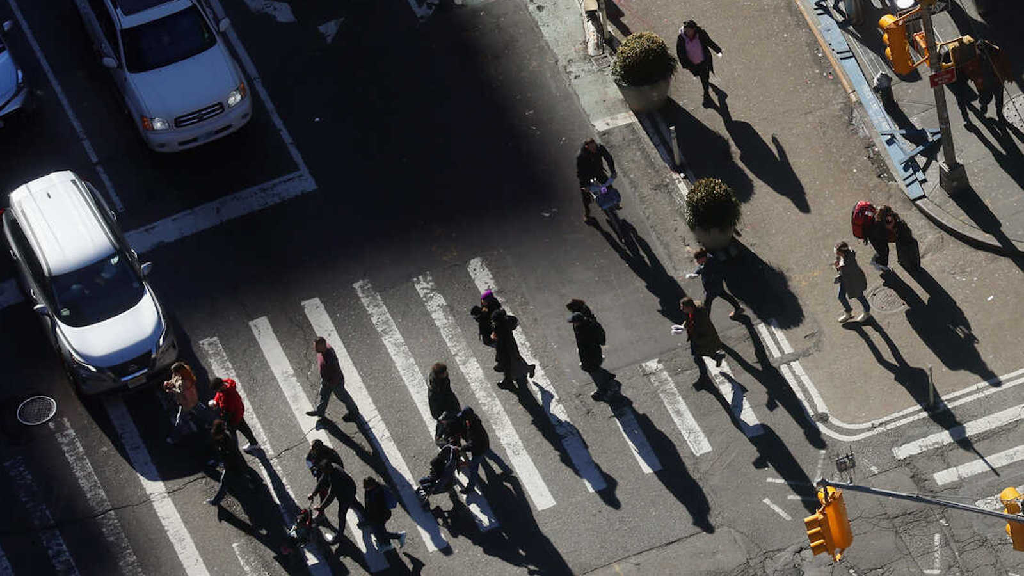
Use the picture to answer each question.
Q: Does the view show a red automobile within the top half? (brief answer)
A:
No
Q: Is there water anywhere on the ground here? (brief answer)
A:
No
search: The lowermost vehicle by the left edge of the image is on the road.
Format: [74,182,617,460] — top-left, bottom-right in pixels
[0,177,176,402]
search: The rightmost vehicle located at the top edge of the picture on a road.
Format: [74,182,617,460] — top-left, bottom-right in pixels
[62,0,245,164]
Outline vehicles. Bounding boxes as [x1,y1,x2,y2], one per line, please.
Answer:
[0,29,34,133]
[62,0,245,164]
[0,177,176,402]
